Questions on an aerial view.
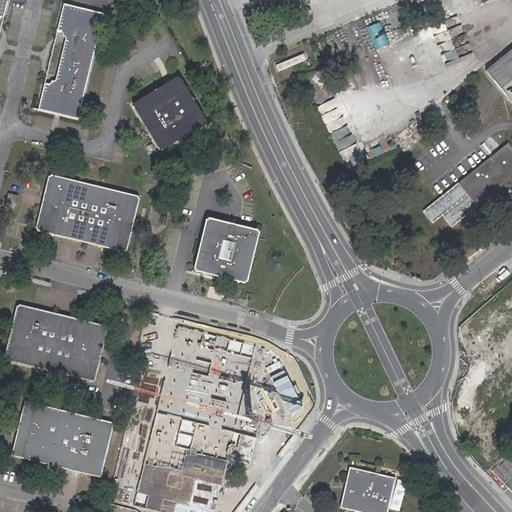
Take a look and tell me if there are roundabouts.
Yes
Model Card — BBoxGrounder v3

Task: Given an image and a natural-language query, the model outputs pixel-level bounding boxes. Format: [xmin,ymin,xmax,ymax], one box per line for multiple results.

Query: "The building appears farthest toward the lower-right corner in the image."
[338,466,404,512]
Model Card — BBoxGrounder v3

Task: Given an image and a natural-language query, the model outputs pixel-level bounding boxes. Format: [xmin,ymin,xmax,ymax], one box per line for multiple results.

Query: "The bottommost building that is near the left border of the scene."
[14,406,114,476]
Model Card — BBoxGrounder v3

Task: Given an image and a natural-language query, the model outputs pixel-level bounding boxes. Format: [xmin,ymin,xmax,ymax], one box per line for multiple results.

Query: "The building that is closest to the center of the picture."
[196,218,261,282]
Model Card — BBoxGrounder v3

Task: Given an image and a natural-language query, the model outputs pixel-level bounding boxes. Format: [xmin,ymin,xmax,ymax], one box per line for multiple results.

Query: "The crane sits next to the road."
[106,378,313,440]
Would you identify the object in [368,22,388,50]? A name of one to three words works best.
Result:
shed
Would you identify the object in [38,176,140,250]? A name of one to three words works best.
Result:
building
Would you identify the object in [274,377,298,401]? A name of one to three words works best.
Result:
building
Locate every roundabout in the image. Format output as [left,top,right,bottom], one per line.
[276,254,468,441]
